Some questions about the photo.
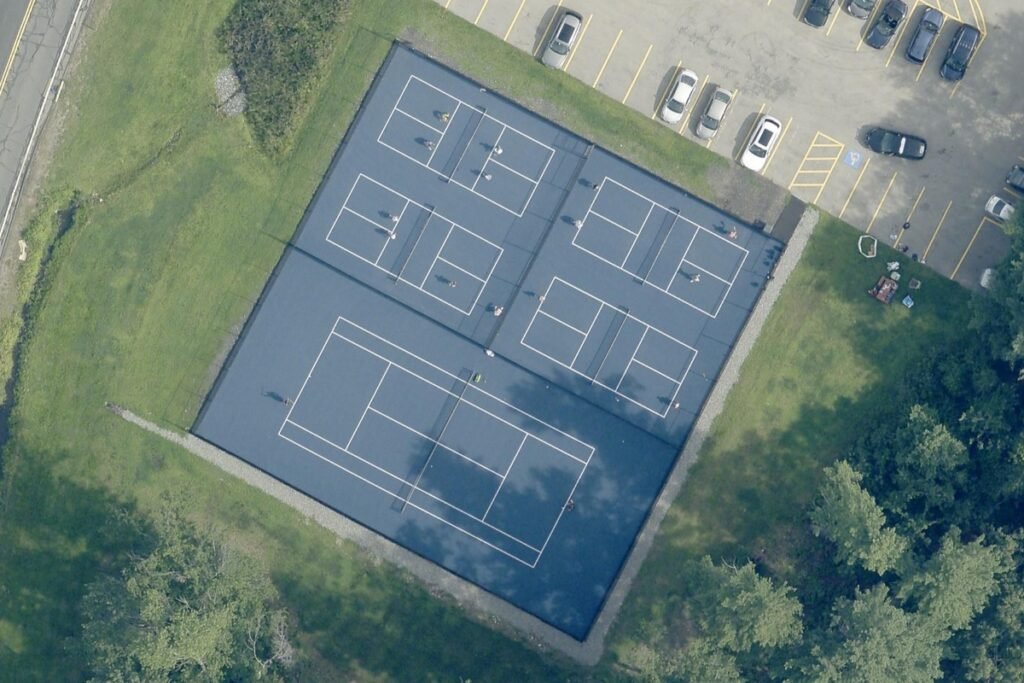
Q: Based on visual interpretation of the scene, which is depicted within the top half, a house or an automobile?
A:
automobile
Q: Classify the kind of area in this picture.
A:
sports ground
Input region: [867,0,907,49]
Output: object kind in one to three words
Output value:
car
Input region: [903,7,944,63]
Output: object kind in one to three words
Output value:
car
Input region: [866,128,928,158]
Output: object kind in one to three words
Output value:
truck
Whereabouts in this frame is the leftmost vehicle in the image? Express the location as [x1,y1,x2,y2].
[542,12,584,68]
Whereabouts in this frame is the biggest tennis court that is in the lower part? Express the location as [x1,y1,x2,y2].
[192,246,680,641]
